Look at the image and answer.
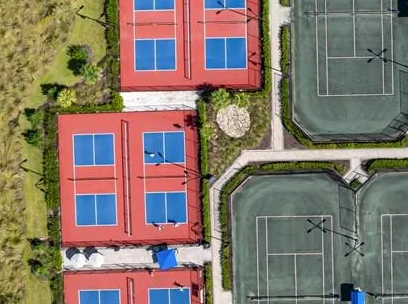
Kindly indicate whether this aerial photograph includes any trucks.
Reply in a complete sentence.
No, there is no truck in the image.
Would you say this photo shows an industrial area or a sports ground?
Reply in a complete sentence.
The picture captures a sports ground.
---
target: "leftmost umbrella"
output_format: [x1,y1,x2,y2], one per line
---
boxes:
[71,251,88,268]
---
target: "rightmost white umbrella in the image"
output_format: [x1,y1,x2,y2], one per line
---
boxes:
[88,251,105,267]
